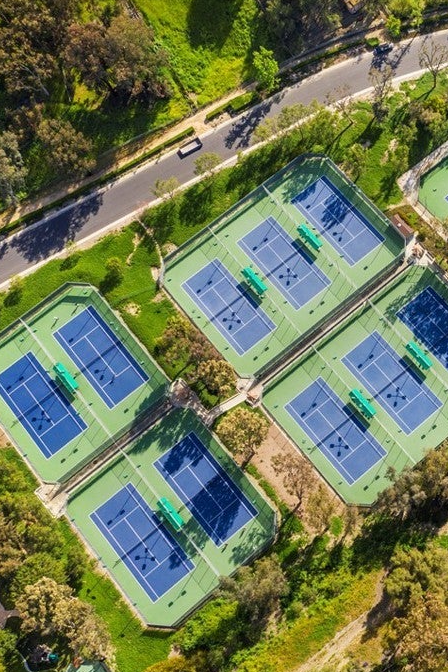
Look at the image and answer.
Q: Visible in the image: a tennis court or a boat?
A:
tennis court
